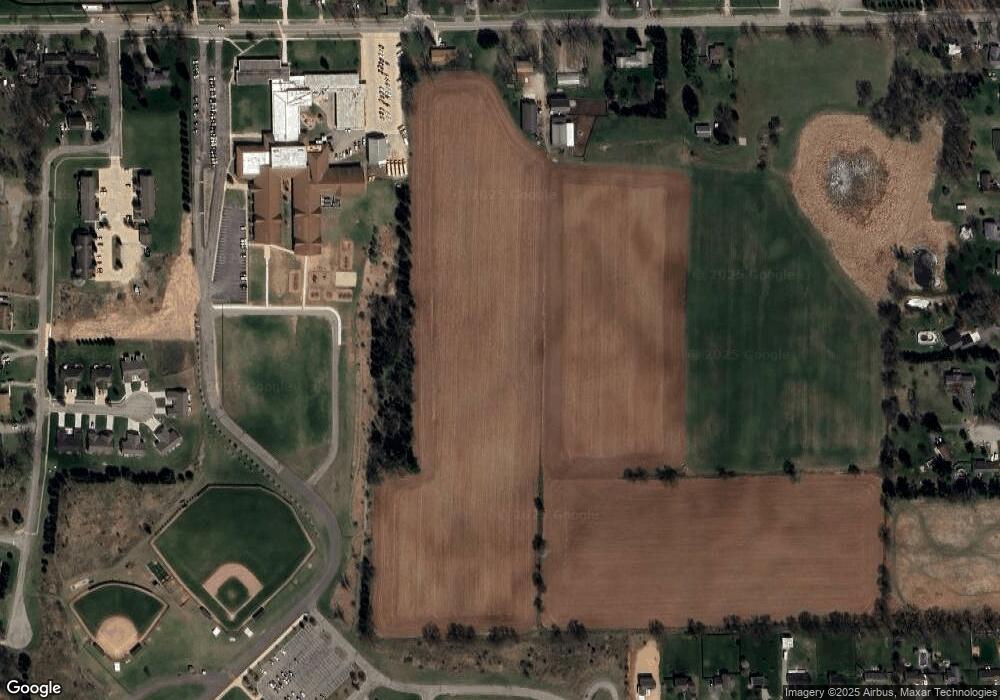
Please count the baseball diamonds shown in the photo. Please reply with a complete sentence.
My tally gives 2 baseball diamonds in this view.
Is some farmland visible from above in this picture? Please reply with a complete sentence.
Yes, the picture does contain farmland.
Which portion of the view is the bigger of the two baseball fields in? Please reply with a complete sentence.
Look in the bottom left portion of the view to spot the bigger of the two baseball fields.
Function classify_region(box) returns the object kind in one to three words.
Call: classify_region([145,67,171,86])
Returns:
house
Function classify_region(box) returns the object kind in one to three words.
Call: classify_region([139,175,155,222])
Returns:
building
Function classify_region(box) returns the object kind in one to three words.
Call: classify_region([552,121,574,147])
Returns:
barn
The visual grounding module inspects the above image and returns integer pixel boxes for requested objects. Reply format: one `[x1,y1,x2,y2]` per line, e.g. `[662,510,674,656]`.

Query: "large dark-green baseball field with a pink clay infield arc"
[150,486,314,630]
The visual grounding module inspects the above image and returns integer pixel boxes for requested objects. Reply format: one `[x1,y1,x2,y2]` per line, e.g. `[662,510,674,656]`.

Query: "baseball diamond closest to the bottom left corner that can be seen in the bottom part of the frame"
[70,583,169,660]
